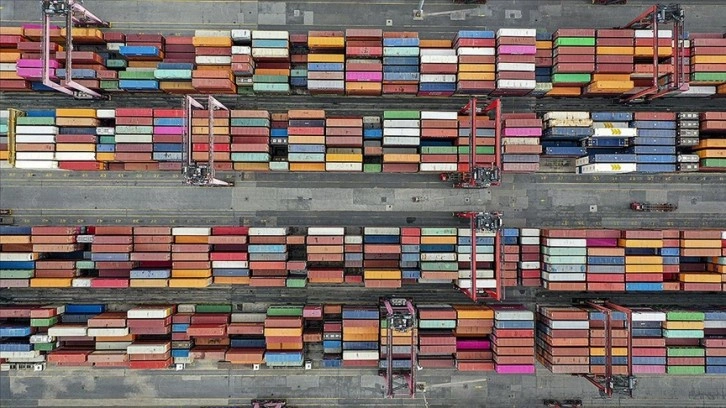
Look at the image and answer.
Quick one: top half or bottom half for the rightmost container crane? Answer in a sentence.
The rightmost container crane sits in the top half of the picture.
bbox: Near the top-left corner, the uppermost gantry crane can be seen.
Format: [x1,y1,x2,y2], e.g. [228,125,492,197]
[37,0,113,99]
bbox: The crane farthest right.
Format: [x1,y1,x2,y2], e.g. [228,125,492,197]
[611,1,688,104]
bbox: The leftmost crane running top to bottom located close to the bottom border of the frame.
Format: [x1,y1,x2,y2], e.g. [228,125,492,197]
[377,299,420,399]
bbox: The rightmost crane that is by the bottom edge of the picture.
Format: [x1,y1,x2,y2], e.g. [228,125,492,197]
[569,299,639,399]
